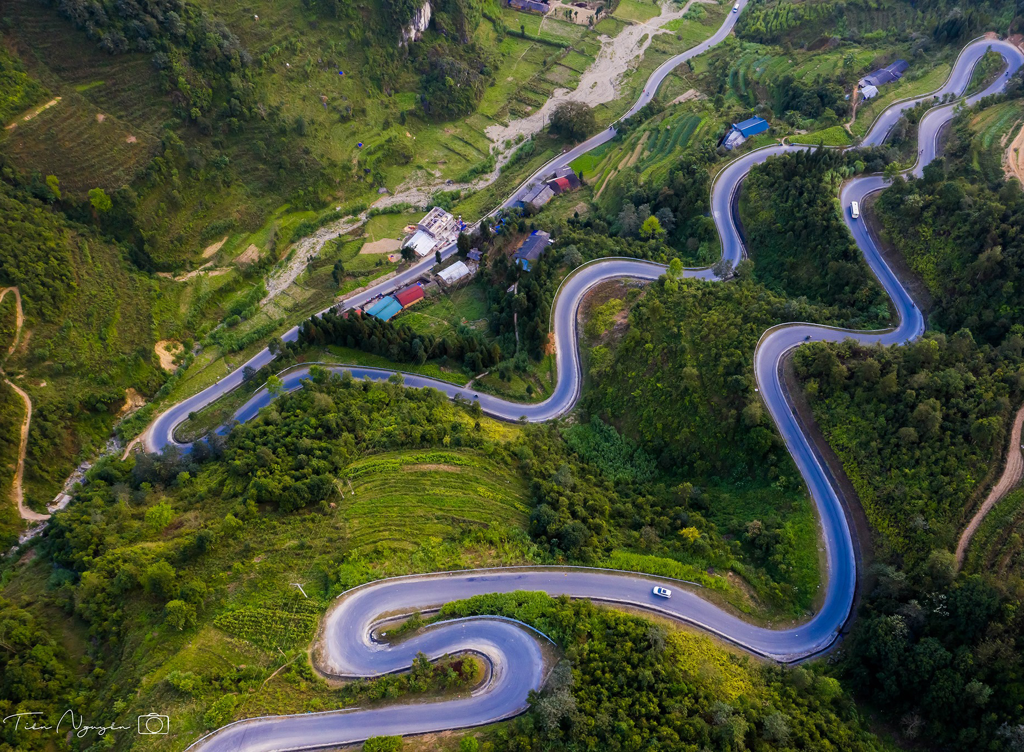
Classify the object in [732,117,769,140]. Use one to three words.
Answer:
house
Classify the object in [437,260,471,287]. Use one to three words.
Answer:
barn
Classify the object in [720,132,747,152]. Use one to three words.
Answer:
shed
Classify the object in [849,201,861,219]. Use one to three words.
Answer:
vehicle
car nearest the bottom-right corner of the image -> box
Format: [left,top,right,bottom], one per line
[652,587,673,599]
